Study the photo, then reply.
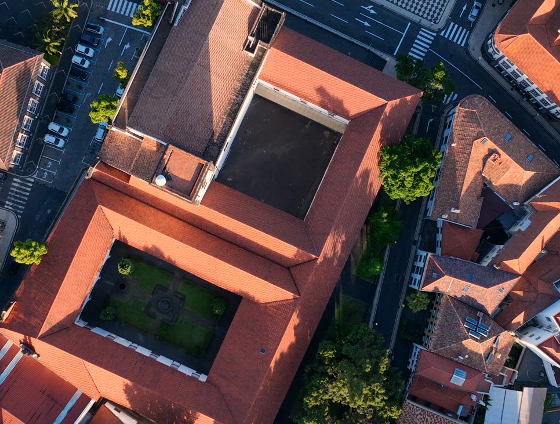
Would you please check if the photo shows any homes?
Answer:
Yes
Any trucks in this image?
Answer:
No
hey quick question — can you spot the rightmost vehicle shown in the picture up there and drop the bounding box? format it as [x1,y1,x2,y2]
[466,0,482,25]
